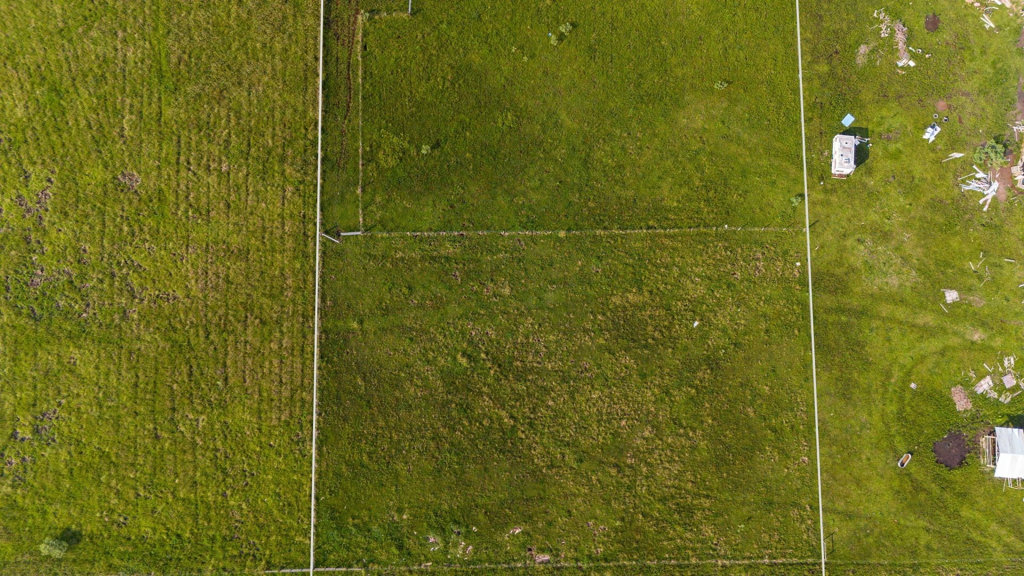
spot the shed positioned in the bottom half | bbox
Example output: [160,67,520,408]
[980,428,1024,478]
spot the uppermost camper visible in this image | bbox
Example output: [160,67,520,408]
[830,135,854,180]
